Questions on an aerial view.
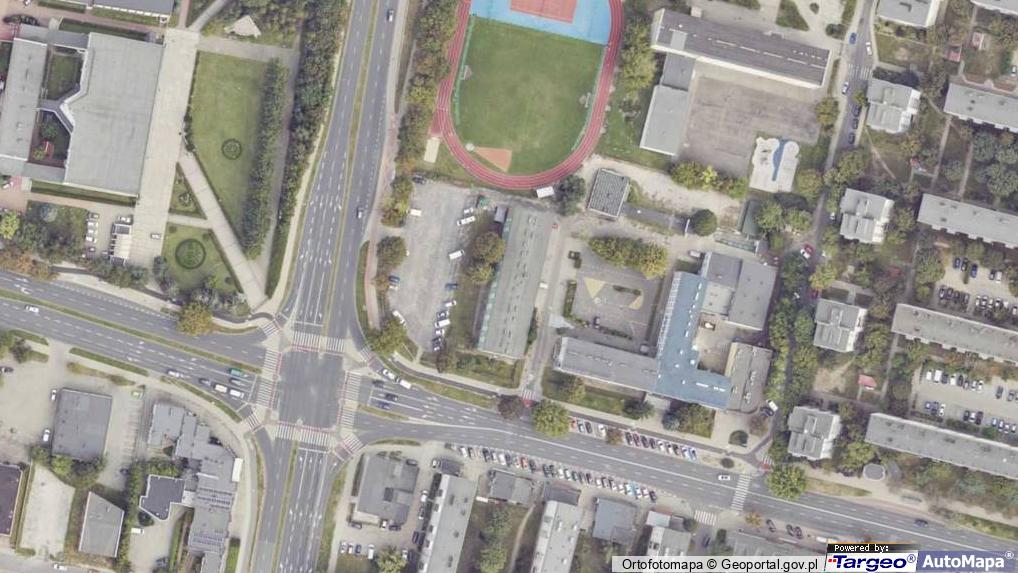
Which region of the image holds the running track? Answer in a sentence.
The running track sits in the top section of the image.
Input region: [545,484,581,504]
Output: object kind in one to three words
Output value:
shed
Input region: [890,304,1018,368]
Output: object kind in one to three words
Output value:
building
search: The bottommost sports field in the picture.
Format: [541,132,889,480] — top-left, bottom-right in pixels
[451,13,607,180]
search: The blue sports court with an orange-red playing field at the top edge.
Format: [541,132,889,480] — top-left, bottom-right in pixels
[469,0,610,44]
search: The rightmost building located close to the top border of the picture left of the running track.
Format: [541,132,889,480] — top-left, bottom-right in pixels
[226,15,260,37]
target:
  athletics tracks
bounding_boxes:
[428,0,624,193]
